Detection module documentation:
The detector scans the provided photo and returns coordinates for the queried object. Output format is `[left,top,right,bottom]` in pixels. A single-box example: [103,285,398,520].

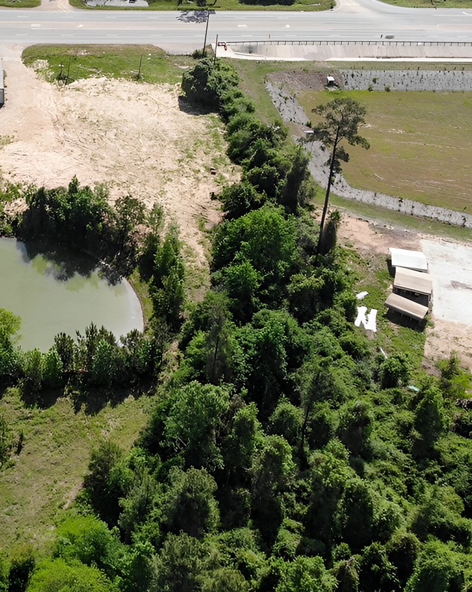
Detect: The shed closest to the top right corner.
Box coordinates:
[386,248,427,277]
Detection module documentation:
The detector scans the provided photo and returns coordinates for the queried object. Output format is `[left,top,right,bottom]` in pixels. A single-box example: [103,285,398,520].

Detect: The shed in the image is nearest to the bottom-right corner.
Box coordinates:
[383,293,428,330]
